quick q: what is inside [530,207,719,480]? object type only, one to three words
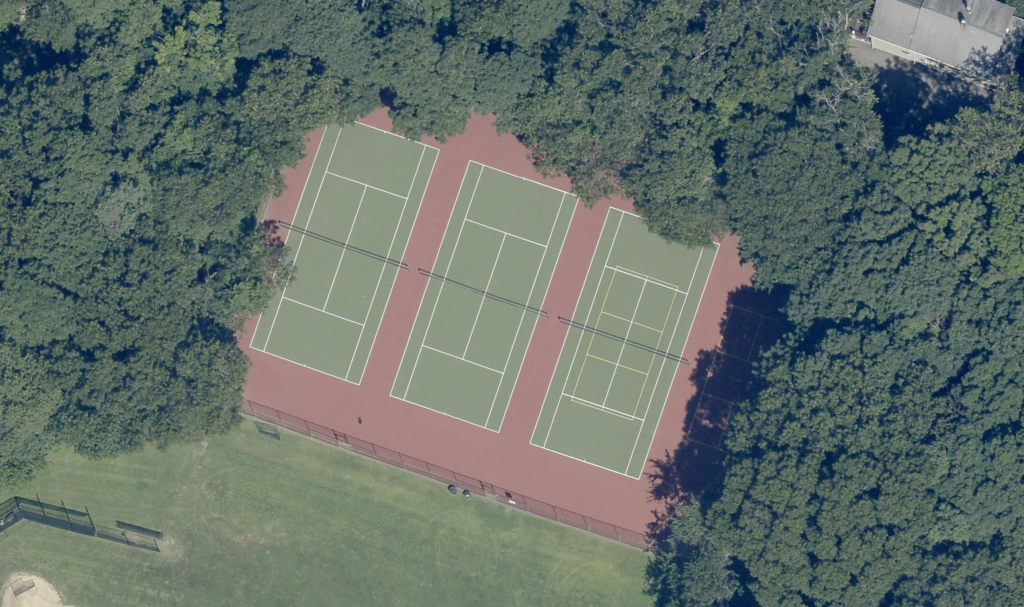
tennis court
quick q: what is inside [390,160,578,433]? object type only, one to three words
tennis court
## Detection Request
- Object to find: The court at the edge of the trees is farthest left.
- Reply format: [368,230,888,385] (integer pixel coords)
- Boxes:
[250,117,438,385]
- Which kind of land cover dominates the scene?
trees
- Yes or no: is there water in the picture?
No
